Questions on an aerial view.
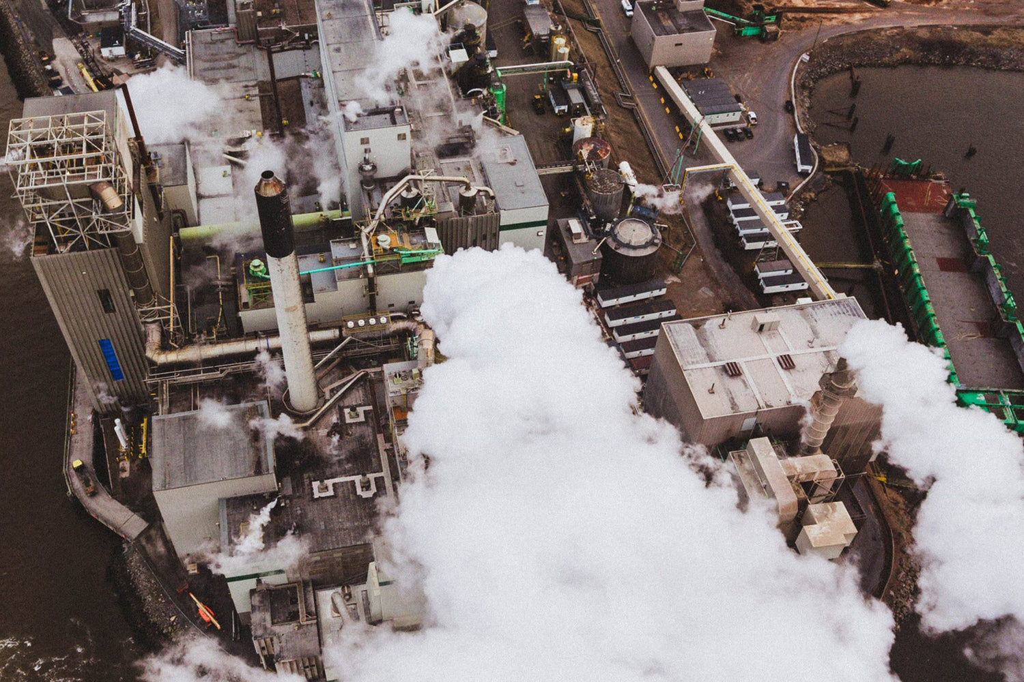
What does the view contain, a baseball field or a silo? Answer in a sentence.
Visible in the photo is a silo.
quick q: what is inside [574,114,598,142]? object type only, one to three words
silo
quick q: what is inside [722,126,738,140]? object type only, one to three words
car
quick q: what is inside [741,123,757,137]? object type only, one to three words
car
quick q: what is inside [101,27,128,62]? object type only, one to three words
shed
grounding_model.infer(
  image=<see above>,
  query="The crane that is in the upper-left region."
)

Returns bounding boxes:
[76,61,113,89]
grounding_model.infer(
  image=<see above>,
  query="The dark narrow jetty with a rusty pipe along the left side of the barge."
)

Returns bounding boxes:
[847,168,922,349]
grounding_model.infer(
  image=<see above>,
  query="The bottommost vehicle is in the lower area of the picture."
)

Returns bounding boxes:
[187,590,225,636]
